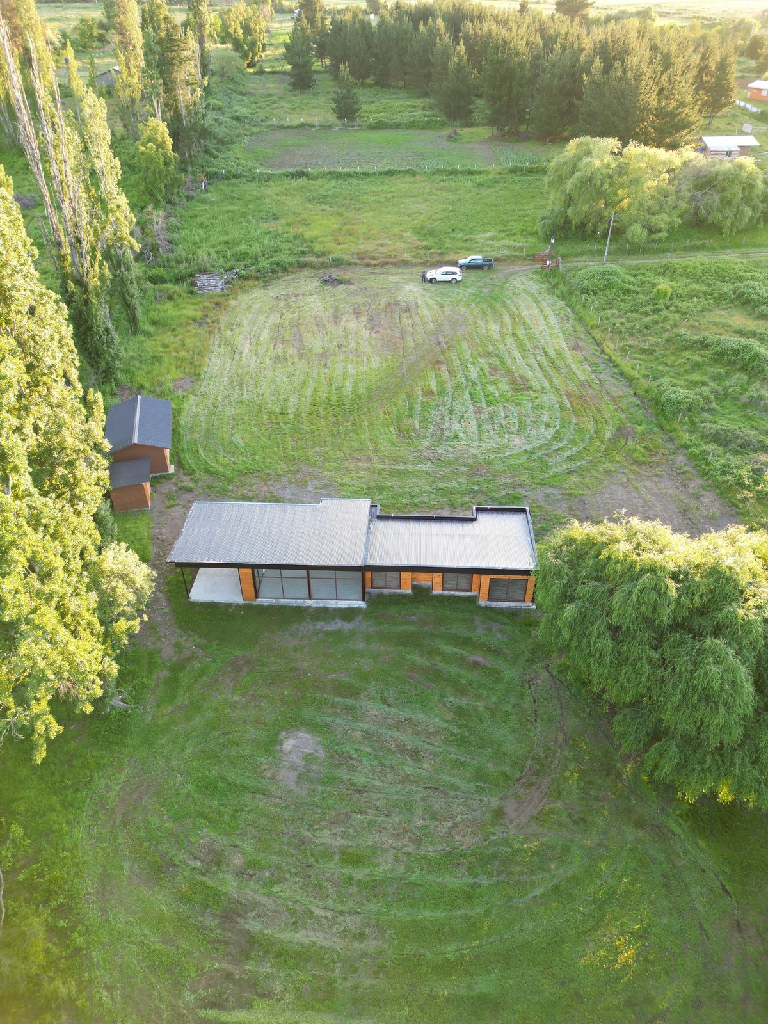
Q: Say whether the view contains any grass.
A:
Yes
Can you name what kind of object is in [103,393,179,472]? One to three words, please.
shed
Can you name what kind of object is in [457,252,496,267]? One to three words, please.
vehicle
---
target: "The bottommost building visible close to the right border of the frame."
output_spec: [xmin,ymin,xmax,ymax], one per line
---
[698,130,763,157]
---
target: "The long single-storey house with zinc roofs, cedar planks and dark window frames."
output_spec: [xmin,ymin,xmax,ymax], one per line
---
[167,496,541,608]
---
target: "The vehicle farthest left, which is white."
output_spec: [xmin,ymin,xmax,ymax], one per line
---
[427,264,464,281]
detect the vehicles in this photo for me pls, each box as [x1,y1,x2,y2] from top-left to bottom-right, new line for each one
[457,252,496,267]
[427,264,464,281]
